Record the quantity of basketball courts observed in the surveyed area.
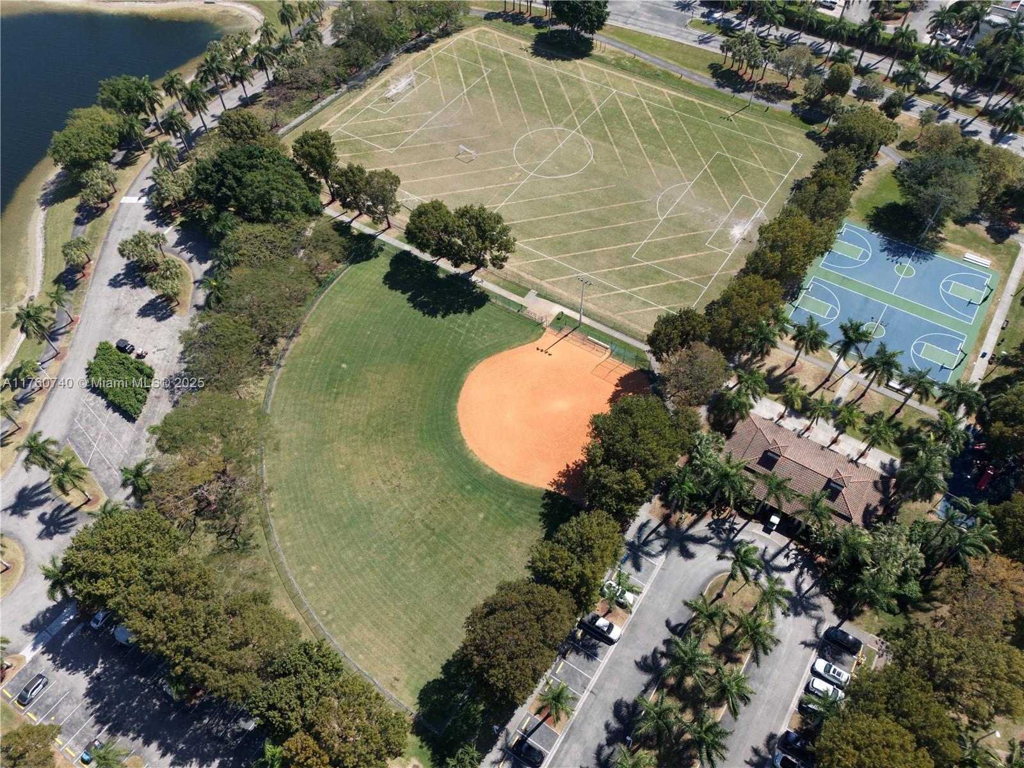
2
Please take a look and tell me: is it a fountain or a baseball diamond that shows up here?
baseball diamond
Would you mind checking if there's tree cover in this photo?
Yes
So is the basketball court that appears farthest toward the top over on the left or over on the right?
right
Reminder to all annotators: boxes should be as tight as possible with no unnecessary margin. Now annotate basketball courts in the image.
[788,276,968,386]
[821,224,991,323]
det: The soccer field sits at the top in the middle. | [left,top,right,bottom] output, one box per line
[280,21,825,343]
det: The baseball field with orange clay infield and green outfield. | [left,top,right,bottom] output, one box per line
[260,253,655,731]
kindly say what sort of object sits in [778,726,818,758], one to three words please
car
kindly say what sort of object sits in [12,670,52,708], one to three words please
car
